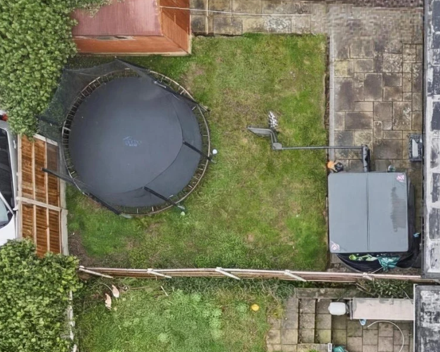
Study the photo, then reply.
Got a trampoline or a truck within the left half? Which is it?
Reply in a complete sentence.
Visible within the left half is a trampoline.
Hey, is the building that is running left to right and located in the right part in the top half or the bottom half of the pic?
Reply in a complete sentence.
The bottom half of the photo is where the building that is running left to right and located in the right part is.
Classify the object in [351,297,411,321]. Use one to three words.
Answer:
building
